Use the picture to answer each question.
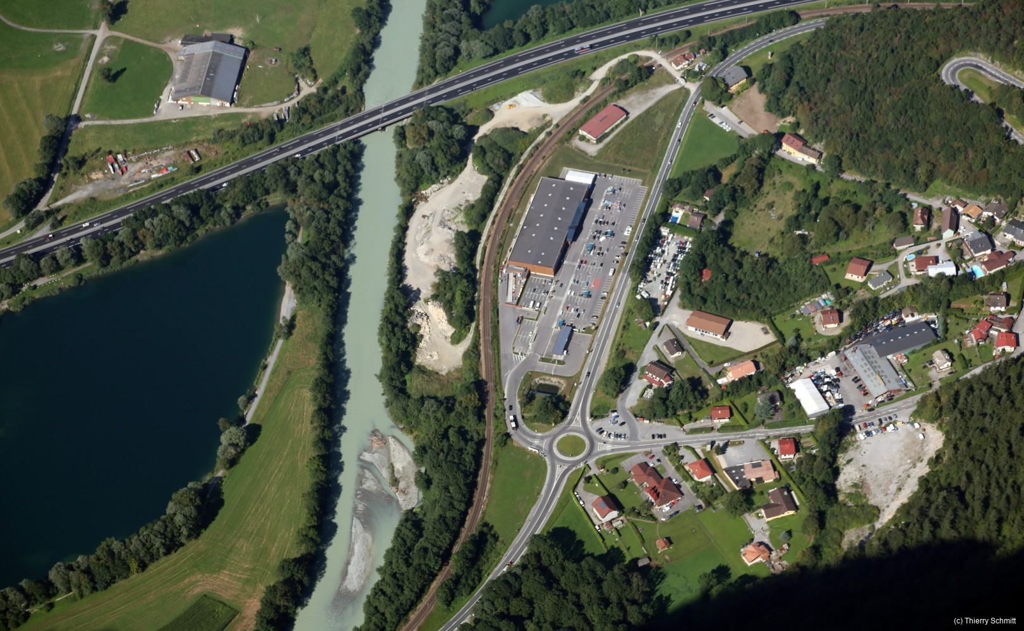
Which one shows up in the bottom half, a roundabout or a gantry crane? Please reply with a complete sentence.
What appears in the bottom half is a roundabout.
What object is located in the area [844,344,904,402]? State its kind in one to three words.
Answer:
building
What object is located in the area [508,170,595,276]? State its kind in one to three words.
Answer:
building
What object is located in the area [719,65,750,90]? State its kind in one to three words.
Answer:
house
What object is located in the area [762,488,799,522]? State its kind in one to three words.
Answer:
house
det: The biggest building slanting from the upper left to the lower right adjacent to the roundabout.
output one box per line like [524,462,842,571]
[630,463,682,510]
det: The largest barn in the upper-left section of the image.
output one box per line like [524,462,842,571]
[170,43,246,107]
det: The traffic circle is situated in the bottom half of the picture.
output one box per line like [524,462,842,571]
[529,406,628,479]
